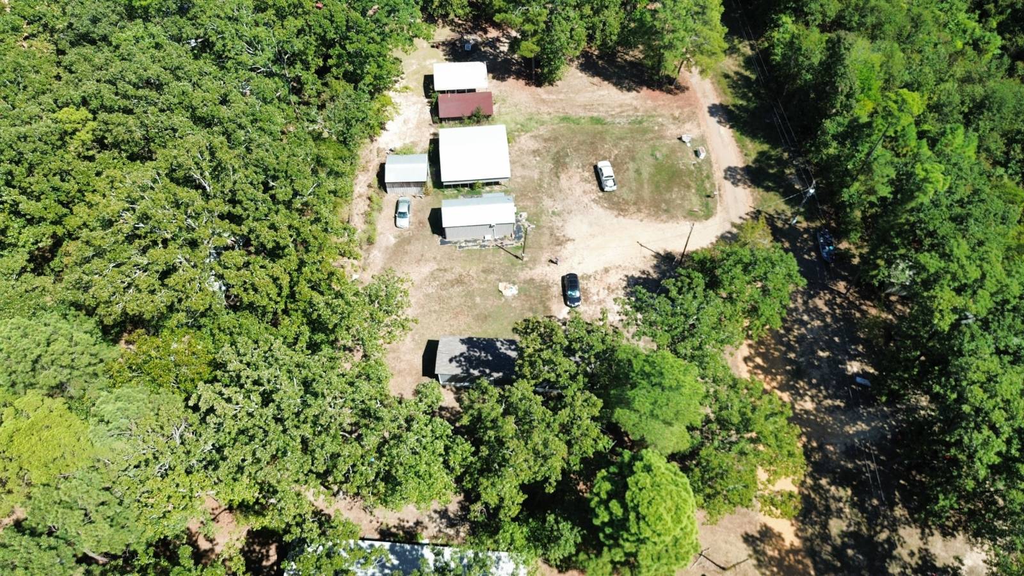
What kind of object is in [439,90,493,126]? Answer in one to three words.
shed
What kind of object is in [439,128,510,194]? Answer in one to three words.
barn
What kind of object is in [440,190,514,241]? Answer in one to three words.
building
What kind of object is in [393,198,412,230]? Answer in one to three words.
car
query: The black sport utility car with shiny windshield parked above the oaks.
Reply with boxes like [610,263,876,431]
[562,273,583,309]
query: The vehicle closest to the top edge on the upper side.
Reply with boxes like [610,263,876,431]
[595,160,620,195]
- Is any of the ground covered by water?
No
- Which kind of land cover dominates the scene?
trees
